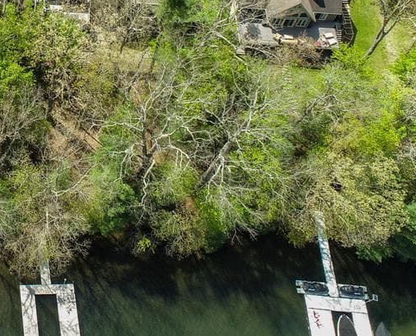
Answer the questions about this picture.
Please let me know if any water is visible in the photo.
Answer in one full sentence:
Yes, the picture does contain water.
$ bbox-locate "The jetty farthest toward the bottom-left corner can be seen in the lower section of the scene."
[19,234,81,336]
